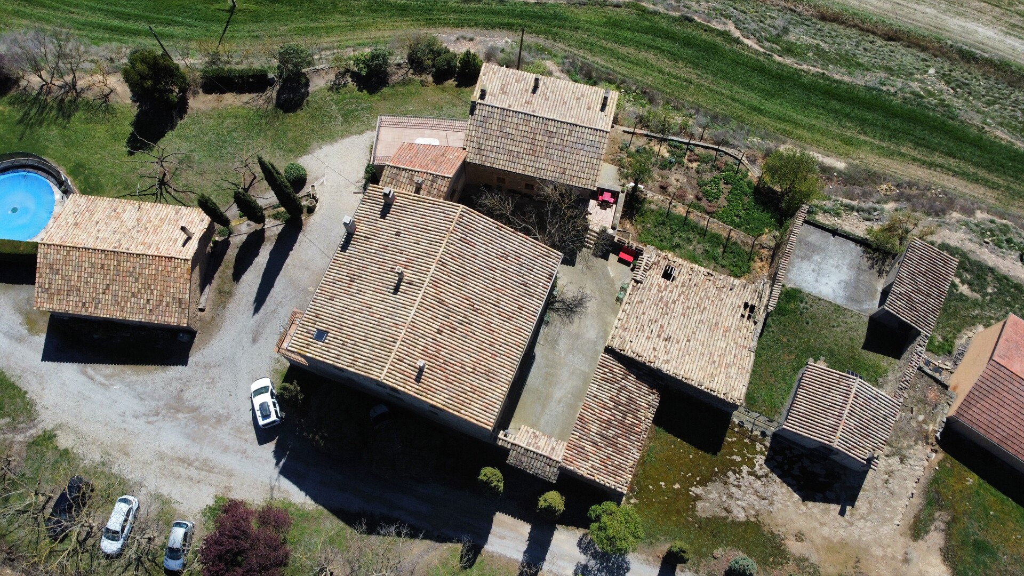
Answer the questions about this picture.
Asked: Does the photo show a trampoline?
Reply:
No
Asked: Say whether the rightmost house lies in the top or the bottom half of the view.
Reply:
bottom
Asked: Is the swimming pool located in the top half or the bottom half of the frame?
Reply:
top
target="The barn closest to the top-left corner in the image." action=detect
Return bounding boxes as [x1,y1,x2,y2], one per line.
[34,193,224,334]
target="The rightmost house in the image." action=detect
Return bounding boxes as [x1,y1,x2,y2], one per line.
[933,313,1024,468]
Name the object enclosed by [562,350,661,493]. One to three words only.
shed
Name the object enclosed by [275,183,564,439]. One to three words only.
house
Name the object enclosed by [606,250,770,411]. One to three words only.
barn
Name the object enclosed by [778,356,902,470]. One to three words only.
shed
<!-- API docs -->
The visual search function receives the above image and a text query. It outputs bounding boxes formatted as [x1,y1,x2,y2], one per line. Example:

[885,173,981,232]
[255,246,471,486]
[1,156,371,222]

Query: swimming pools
[0,161,68,242]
